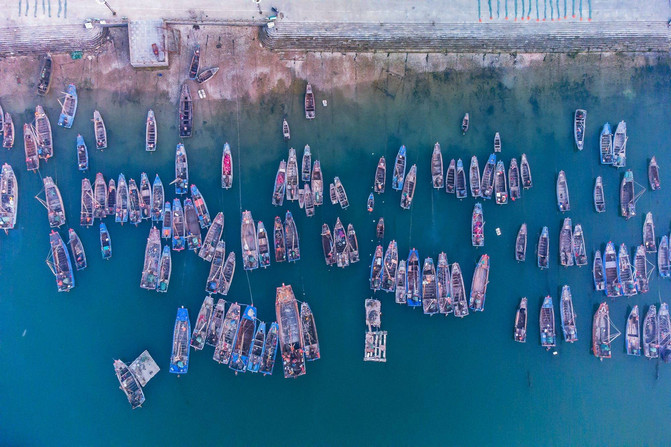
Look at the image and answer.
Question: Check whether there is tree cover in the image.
No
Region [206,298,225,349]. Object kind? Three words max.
boat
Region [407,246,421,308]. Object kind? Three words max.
boat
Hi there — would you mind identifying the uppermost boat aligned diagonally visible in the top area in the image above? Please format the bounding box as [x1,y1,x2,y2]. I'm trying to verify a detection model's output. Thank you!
[198,67,220,85]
